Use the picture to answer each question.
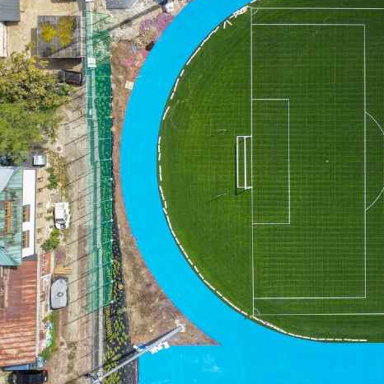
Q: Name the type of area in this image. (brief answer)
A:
sports ground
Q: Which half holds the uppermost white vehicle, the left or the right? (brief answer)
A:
left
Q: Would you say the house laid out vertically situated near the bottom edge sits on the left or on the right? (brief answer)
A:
left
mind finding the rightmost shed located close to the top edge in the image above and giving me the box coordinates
[38,8,87,56]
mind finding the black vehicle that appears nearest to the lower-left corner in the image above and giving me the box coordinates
[11,370,45,384]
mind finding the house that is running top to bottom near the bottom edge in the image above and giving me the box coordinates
[0,263,45,366]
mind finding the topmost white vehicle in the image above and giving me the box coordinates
[54,200,75,229]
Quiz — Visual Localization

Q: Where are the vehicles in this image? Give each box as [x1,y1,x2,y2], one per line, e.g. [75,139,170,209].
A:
[58,69,89,84]
[11,370,45,384]
[54,200,75,229]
